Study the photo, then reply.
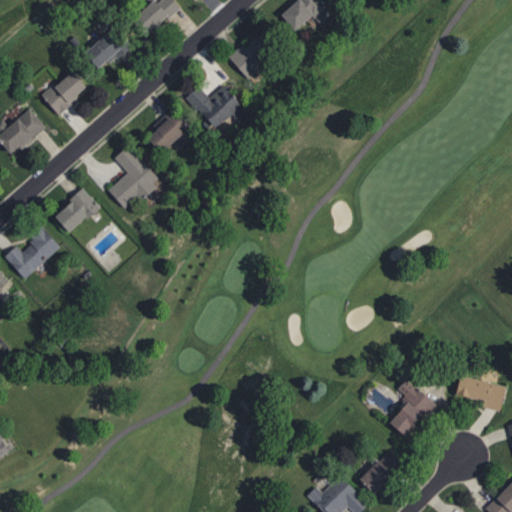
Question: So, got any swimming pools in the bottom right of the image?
Yes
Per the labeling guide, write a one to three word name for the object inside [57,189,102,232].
house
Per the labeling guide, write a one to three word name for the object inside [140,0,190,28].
house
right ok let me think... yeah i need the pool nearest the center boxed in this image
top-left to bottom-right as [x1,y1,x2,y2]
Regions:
[86,222,126,272]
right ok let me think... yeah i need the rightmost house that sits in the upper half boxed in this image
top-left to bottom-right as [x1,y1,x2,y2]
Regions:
[281,0,324,31]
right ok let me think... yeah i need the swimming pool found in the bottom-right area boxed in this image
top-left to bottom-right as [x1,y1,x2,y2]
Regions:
[364,382,399,415]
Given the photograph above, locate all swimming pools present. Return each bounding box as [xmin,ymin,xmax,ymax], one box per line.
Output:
[86,222,126,272]
[364,382,399,415]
